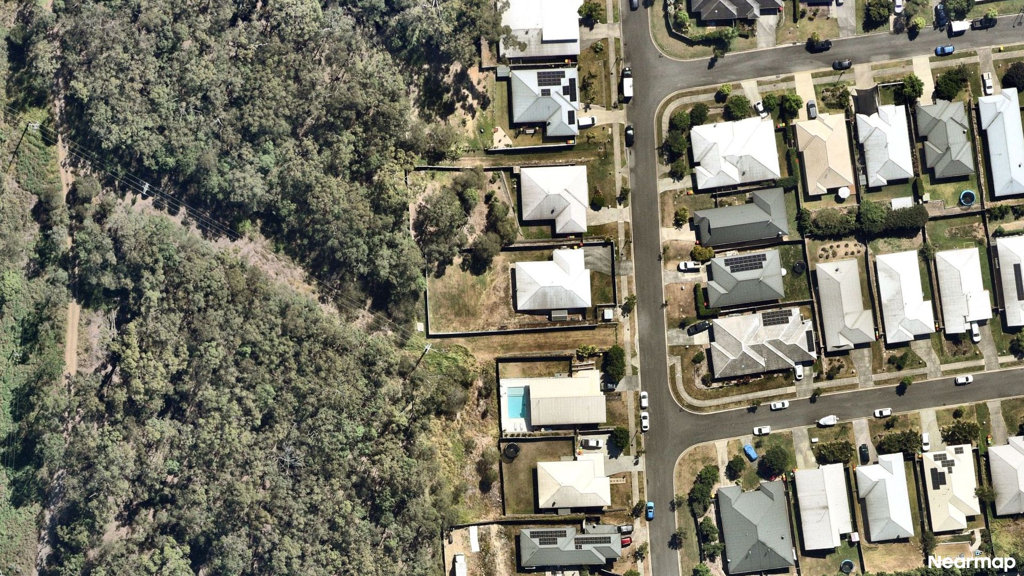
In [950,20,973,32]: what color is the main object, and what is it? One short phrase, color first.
white vehicle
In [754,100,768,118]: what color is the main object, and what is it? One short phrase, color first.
white car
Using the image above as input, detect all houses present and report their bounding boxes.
[979,88,1024,196]
[691,0,783,19]
[989,436,1024,516]
[916,97,975,178]
[691,116,782,190]
[537,453,611,509]
[499,0,584,57]
[816,258,876,352]
[876,250,937,344]
[997,235,1024,326]
[710,307,818,378]
[795,463,853,550]
[511,67,580,136]
[857,452,916,542]
[796,114,855,195]
[530,370,606,425]
[515,248,591,310]
[857,105,916,187]
[707,249,785,308]
[520,524,622,567]
[694,187,791,246]
[923,443,982,532]
[936,247,994,334]
[520,165,589,234]
[718,480,794,574]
